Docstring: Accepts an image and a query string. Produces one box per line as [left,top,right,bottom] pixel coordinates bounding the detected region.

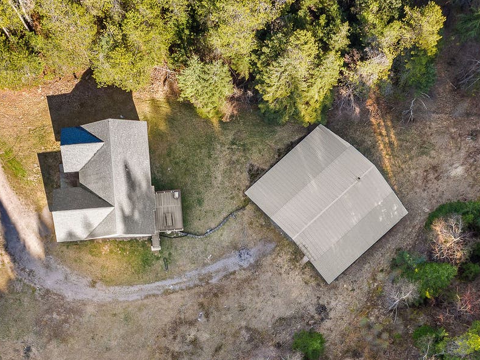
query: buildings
[246,123,406,285]
[51,118,185,250]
